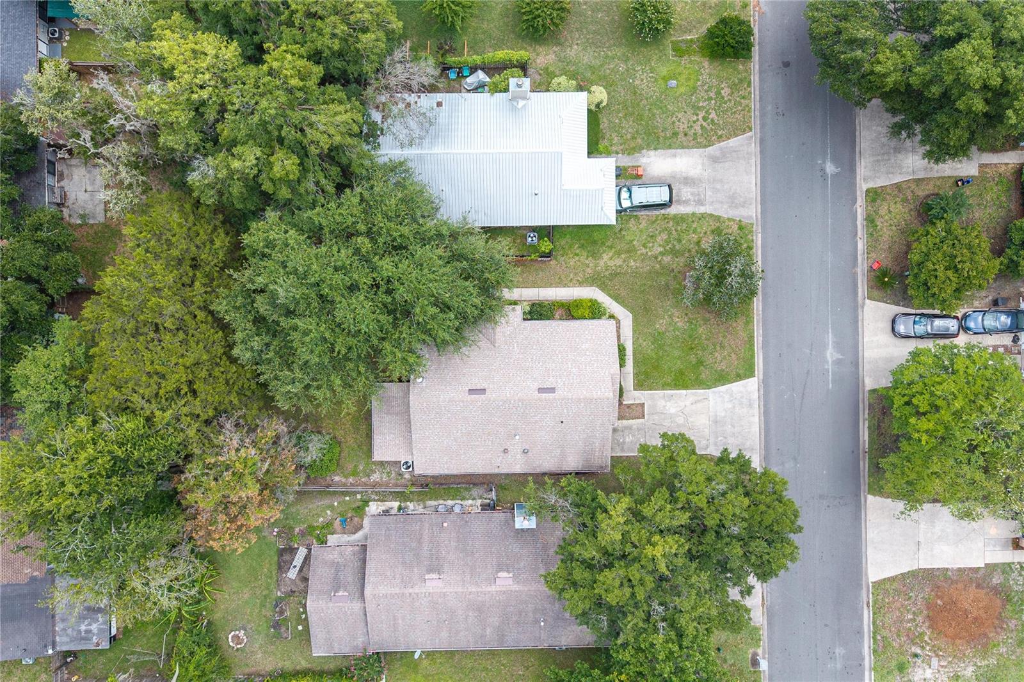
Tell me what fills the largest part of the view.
trees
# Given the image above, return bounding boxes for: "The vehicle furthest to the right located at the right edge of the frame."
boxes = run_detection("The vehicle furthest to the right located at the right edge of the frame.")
[962,306,1024,337]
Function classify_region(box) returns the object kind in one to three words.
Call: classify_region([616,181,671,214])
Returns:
car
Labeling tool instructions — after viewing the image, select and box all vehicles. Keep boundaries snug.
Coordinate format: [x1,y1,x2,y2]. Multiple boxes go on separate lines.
[962,306,1024,337]
[892,309,960,341]
[616,181,671,214]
